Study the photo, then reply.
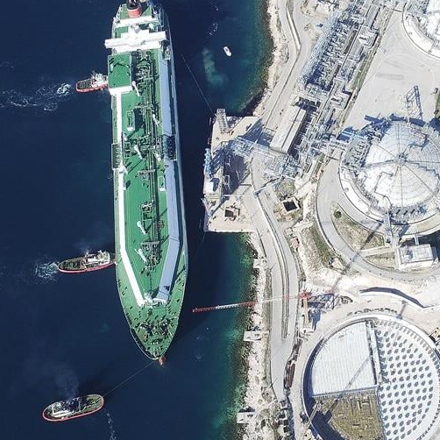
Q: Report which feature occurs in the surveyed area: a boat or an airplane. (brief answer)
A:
boat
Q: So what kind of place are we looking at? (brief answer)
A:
industrial area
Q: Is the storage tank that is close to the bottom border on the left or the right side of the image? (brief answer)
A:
right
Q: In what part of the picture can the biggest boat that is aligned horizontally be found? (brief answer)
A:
bottom left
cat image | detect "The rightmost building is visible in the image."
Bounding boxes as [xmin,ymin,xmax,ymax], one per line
[399,245,435,268]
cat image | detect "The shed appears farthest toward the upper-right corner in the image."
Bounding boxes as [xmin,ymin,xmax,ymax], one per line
[270,104,307,159]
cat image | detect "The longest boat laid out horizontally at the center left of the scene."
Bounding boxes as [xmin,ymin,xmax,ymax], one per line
[58,253,115,275]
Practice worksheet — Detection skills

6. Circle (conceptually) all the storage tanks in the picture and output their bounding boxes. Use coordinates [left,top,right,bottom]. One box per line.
[338,92,440,239]
[401,0,440,70]
[301,304,440,440]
